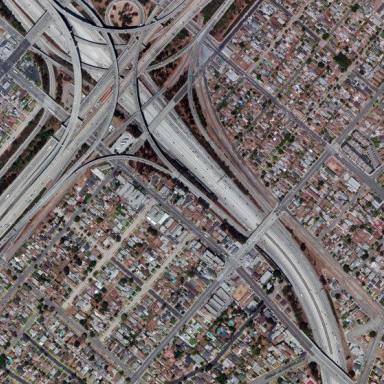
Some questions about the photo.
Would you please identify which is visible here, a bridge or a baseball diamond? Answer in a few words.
bridge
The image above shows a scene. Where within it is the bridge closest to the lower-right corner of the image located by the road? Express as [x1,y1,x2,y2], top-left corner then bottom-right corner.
[302,339,359,384]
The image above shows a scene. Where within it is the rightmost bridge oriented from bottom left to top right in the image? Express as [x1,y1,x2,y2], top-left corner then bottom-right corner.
[230,202,284,260]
